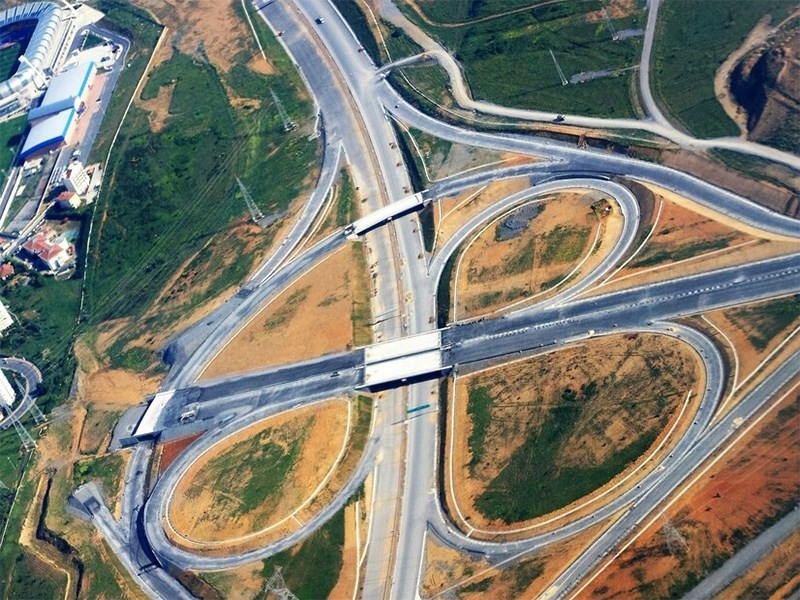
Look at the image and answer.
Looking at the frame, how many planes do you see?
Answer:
zero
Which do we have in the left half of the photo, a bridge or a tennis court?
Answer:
bridge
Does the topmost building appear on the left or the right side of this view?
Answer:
left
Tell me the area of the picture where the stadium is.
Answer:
top left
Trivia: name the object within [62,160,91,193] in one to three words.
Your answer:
building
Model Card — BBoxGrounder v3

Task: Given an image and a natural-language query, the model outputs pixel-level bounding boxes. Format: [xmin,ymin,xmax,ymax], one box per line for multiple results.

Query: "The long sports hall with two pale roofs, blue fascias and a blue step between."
[21,62,98,159]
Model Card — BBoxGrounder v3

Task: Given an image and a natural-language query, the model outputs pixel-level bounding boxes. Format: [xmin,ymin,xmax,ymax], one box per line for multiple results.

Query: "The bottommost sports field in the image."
[0,119,31,193]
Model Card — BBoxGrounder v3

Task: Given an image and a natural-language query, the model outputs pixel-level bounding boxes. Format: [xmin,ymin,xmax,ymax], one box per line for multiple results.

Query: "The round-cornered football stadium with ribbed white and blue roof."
[0,0,78,127]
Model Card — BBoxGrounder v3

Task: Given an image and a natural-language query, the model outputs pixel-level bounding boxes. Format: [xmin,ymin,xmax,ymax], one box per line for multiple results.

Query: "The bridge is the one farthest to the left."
[118,389,176,446]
